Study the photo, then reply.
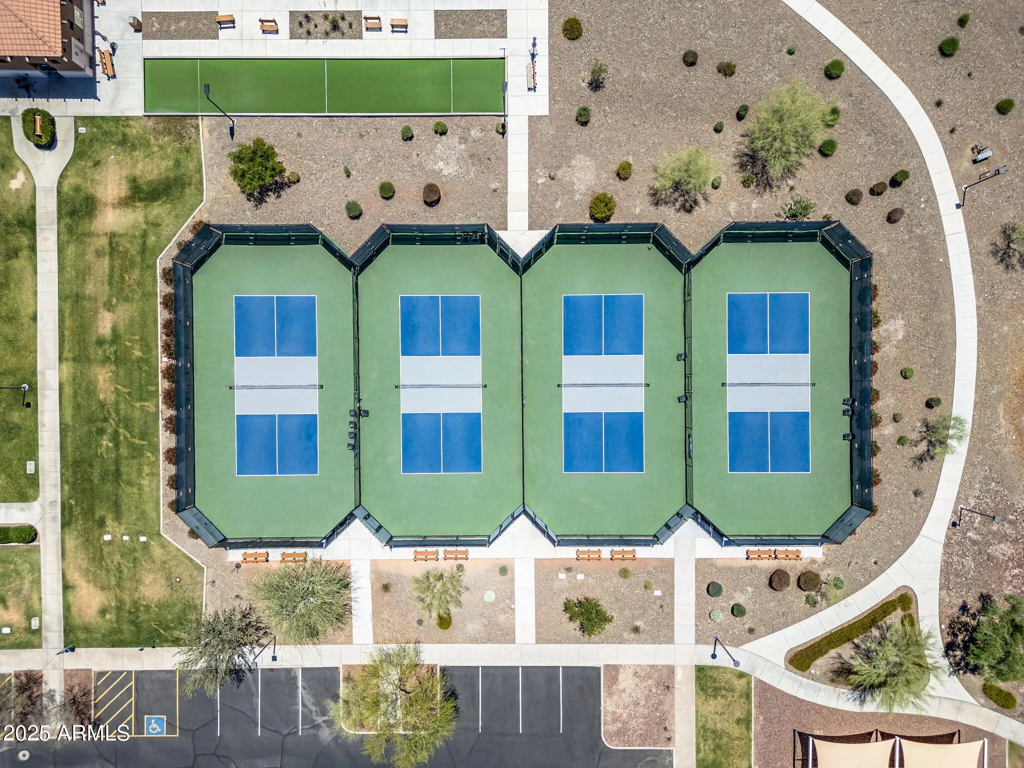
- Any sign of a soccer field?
No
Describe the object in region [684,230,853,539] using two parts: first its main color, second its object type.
green sports court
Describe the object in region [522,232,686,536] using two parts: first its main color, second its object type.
green sports court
